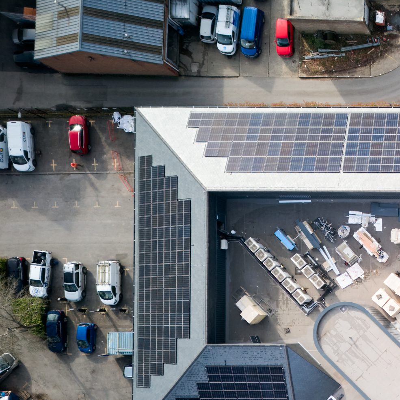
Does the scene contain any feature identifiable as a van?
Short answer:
Yes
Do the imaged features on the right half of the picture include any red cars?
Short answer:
Yes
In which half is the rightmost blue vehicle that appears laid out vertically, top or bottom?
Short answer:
top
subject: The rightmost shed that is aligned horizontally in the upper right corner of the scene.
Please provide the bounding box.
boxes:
[288,0,372,35]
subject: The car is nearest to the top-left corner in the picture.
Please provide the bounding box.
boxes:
[10,24,35,48]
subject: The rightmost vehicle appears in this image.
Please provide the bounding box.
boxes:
[274,18,295,58]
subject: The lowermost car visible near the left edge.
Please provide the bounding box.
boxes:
[0,346,26,389]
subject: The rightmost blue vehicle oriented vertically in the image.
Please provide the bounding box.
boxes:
[241,4,265,59]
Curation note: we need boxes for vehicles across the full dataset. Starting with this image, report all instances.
[66,115,92,156]
[198,7,218,46]
[0,123,15,173]
[46,310,71,354]
[10,24,35,48]
[274,18,295,58]
[0,346,26,389]
[28,250,56,298]
[62,262,88,304]
[6,120,38,172]
[7,255,32,296]
[241,4,265,59]
[10,48,51,70]
[215,2,242,57]
[93,260,123,306]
